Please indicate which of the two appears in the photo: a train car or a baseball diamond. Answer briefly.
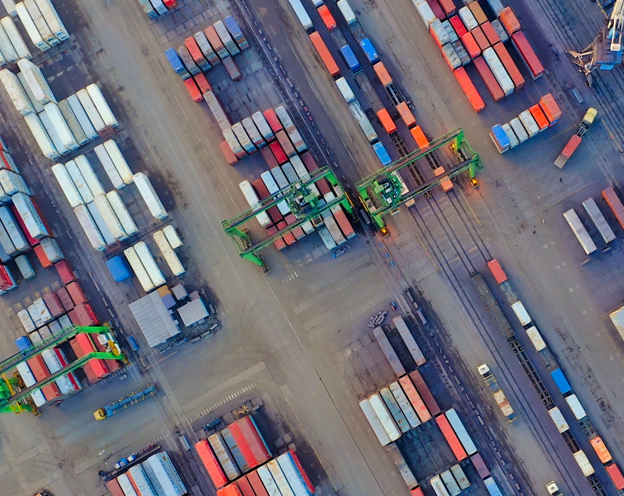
train car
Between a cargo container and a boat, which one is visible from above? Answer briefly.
cargo container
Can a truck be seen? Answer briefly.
Yes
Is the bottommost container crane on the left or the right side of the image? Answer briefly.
left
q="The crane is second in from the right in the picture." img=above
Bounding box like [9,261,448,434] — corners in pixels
[353,121,483,239]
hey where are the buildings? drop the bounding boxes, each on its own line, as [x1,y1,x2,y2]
[177,299,212,327]
[172,283,189,300]
[129,290,182,348]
